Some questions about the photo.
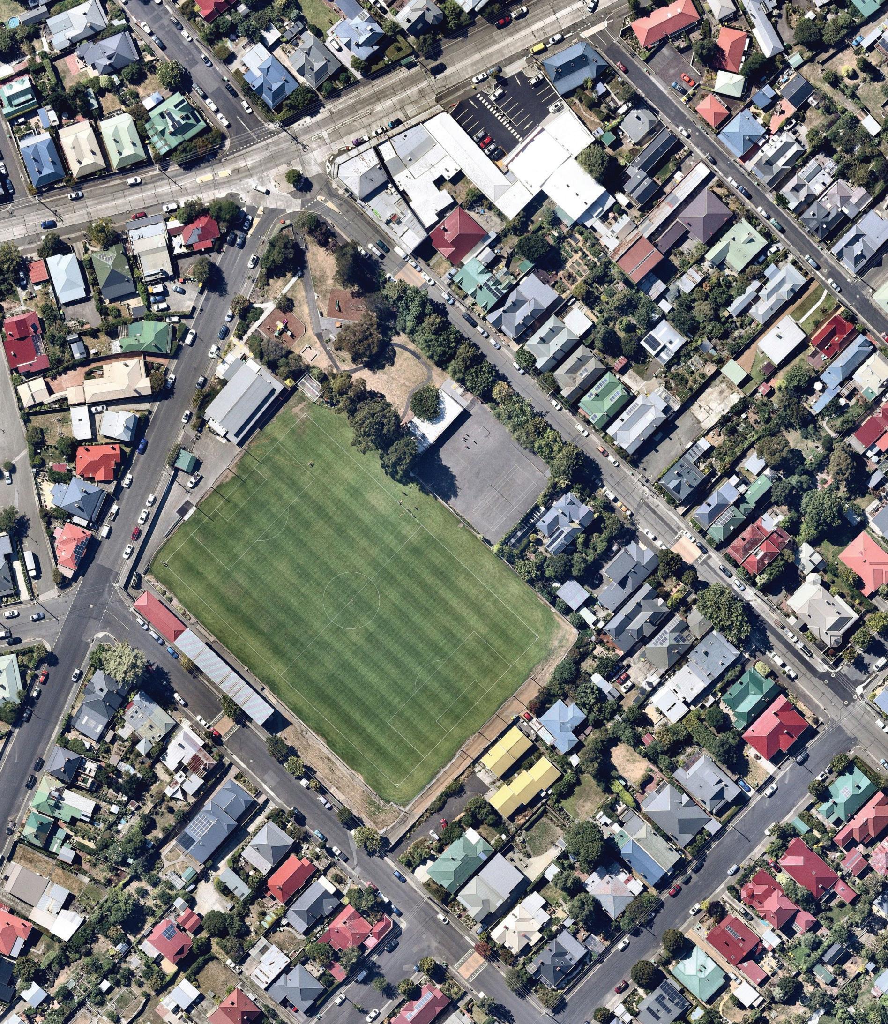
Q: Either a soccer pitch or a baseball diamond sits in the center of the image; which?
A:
soccer pitch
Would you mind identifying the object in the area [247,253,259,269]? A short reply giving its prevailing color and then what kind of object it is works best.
white vehicle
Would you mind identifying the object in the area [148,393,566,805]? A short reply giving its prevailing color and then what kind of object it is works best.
green soccer field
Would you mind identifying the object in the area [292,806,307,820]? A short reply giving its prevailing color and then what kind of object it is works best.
black car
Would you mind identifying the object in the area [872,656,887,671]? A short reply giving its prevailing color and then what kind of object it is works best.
white vehicle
